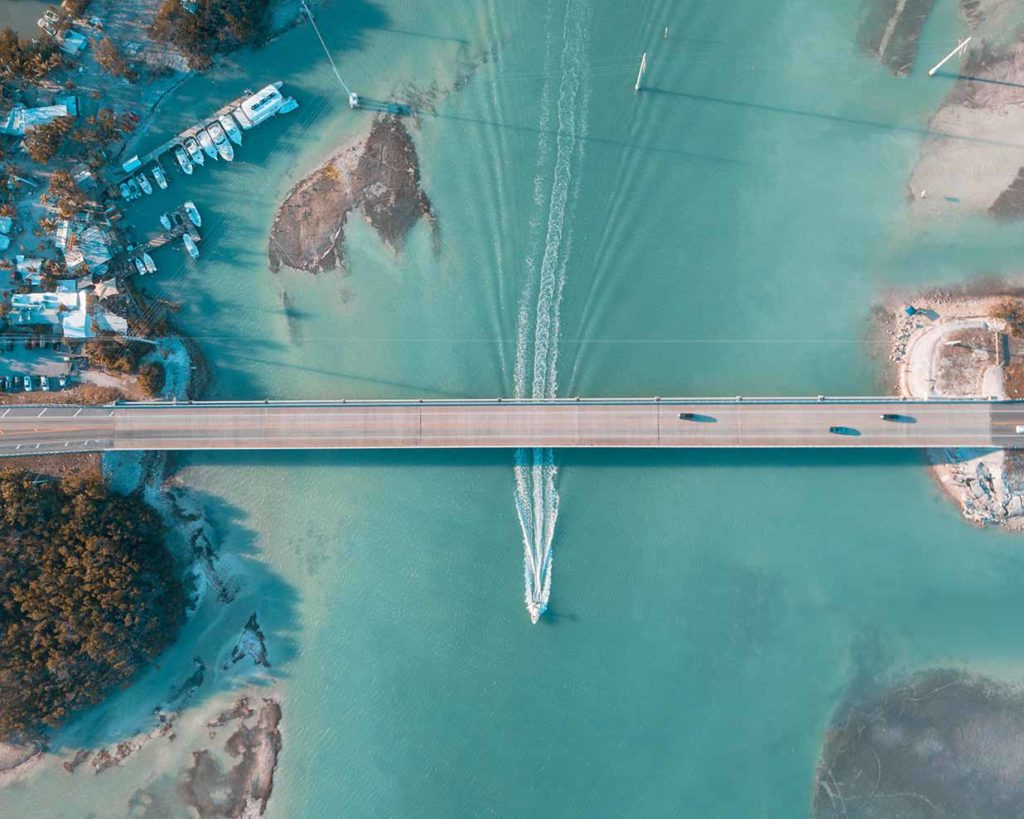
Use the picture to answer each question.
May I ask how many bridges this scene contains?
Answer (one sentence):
Altogether the scene contains 1 bridge.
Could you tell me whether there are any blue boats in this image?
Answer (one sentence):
Yes, I can see a blue boat in this picture.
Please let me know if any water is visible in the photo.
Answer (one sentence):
Yes, the picture does contain water.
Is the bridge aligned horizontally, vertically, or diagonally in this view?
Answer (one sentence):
In this picture, the bridge is oriented horizontally.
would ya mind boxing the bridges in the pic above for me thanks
[103,399,1004,451]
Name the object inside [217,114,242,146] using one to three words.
boat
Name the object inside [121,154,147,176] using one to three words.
shed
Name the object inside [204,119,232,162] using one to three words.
boat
